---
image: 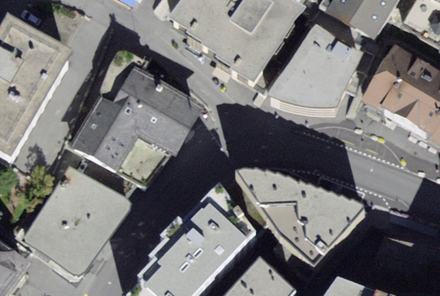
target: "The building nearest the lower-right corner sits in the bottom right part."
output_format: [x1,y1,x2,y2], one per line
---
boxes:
[375,236,440,296]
